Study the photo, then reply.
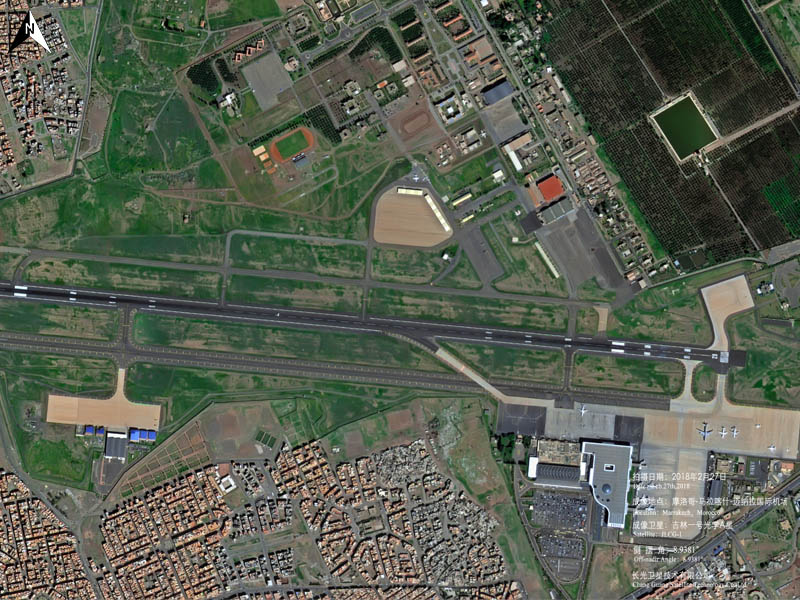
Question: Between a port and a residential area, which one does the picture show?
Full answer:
What you see here is a residential area.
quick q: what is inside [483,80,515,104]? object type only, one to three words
hangar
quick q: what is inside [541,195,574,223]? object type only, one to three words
hangar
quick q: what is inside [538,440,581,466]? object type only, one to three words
building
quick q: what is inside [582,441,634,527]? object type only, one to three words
building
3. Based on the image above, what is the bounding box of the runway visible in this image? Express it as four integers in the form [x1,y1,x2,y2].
[0,280,730,366]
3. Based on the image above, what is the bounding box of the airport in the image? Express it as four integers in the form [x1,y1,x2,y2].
[0,162,800,545]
